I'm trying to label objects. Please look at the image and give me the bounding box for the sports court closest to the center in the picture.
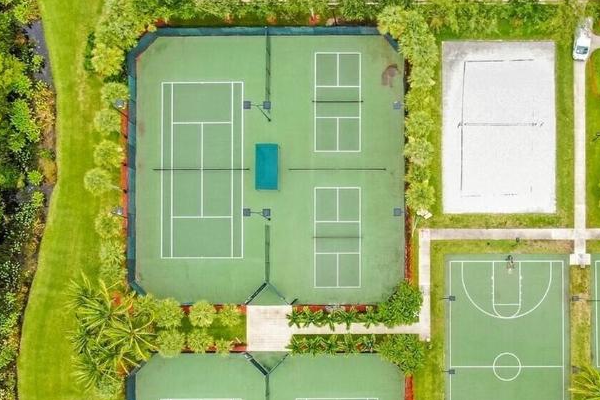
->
[312,187,363,288]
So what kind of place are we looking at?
sports ground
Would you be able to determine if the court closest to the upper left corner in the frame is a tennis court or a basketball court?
tennis court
